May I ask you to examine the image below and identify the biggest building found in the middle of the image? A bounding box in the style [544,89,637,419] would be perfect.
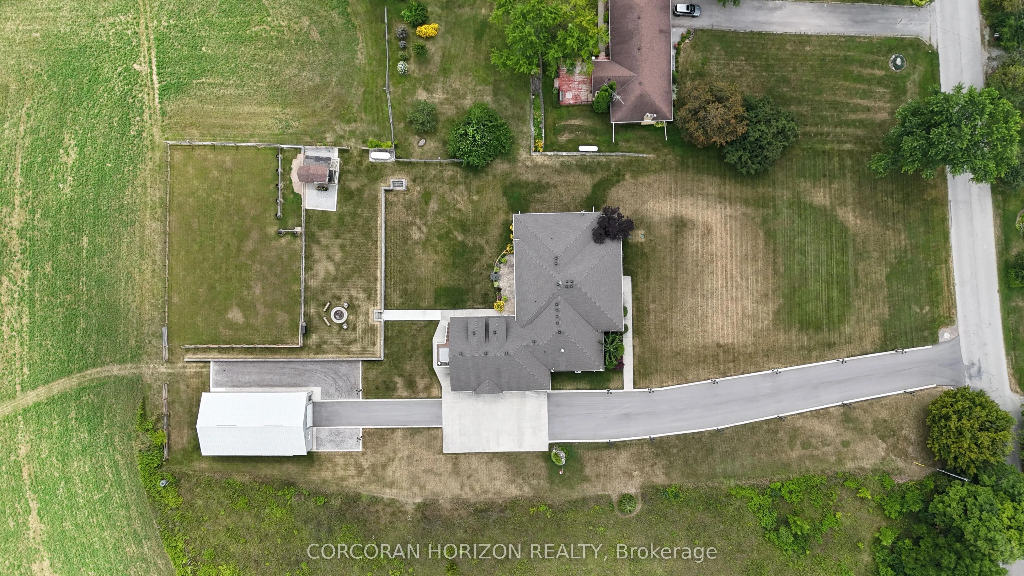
[448,207,624,395]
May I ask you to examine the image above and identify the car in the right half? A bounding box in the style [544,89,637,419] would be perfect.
[672,3,701,18]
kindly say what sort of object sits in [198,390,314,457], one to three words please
barn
